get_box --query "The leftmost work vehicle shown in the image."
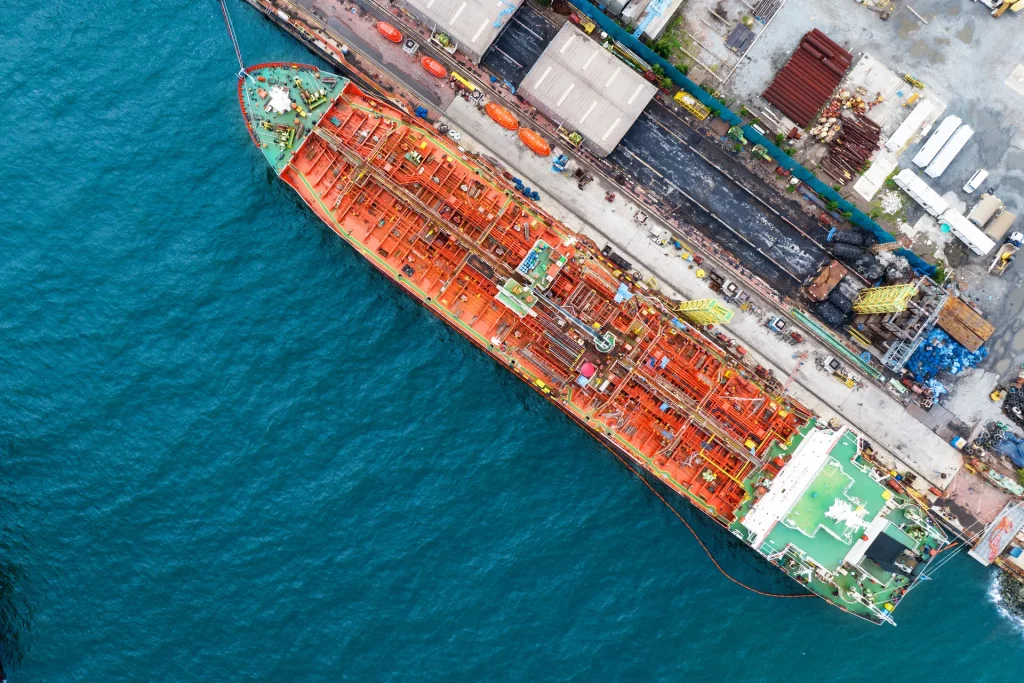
[401,37,420,57]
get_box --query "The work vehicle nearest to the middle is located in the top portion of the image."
[632,208,648,226]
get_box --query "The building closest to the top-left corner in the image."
[389,0,526,68]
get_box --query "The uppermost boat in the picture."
[375,22,403,44]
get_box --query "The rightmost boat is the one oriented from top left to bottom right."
[968,459,1024,506]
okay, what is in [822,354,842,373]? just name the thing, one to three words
work vehicle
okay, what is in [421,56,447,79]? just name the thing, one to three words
boat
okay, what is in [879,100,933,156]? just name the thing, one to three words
trailer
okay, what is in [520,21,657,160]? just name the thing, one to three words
warehouse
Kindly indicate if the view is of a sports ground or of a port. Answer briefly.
port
